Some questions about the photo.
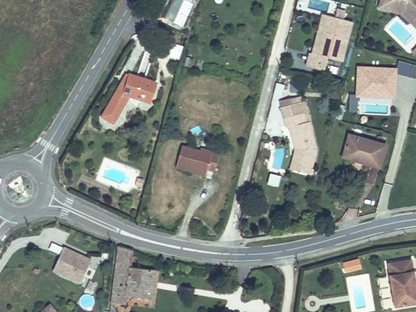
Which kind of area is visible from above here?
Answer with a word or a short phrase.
residential area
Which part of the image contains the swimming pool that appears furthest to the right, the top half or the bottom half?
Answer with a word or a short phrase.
top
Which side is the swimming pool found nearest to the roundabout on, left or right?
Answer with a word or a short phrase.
left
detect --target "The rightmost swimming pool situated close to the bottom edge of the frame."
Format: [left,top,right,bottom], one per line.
[346,274,375,312]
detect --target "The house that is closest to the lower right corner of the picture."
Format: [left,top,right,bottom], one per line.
[388,257,416,309]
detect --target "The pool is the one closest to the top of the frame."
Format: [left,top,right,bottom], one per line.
[296,0,337,14]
